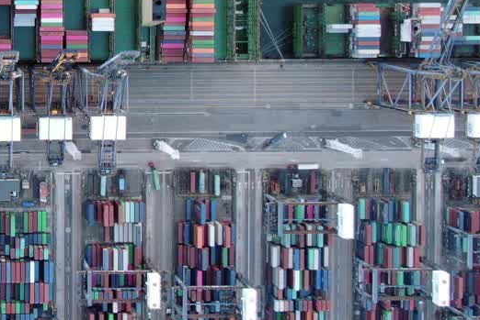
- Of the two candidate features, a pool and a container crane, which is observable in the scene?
container crane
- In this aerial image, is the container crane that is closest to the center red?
No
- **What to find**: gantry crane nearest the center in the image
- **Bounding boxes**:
[260,192,353,241]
